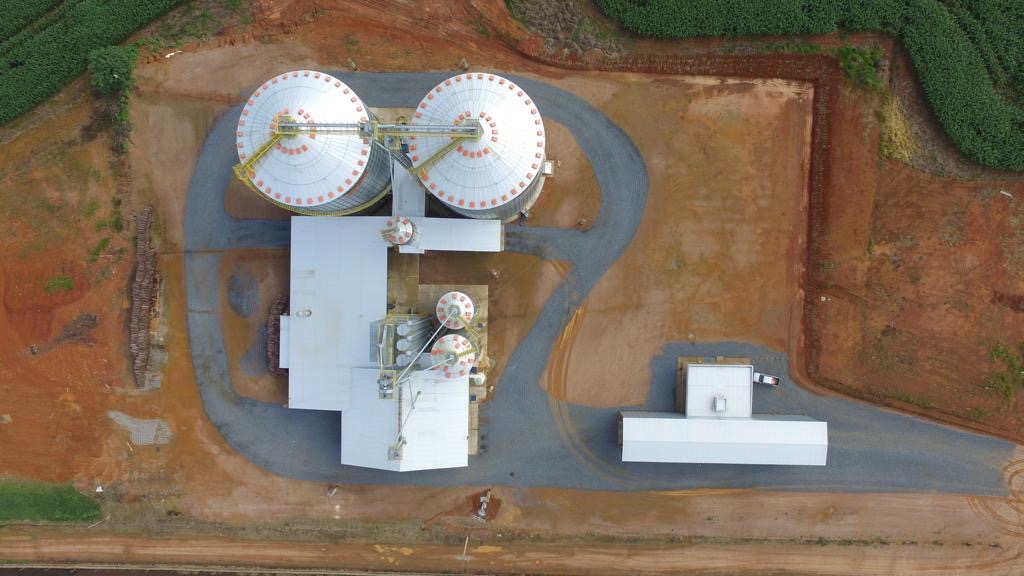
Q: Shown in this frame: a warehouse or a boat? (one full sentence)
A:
It is a warehouse that can be seen here.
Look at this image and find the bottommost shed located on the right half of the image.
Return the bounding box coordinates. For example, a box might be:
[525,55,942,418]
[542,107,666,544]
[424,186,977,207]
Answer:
[616,409,828,466]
